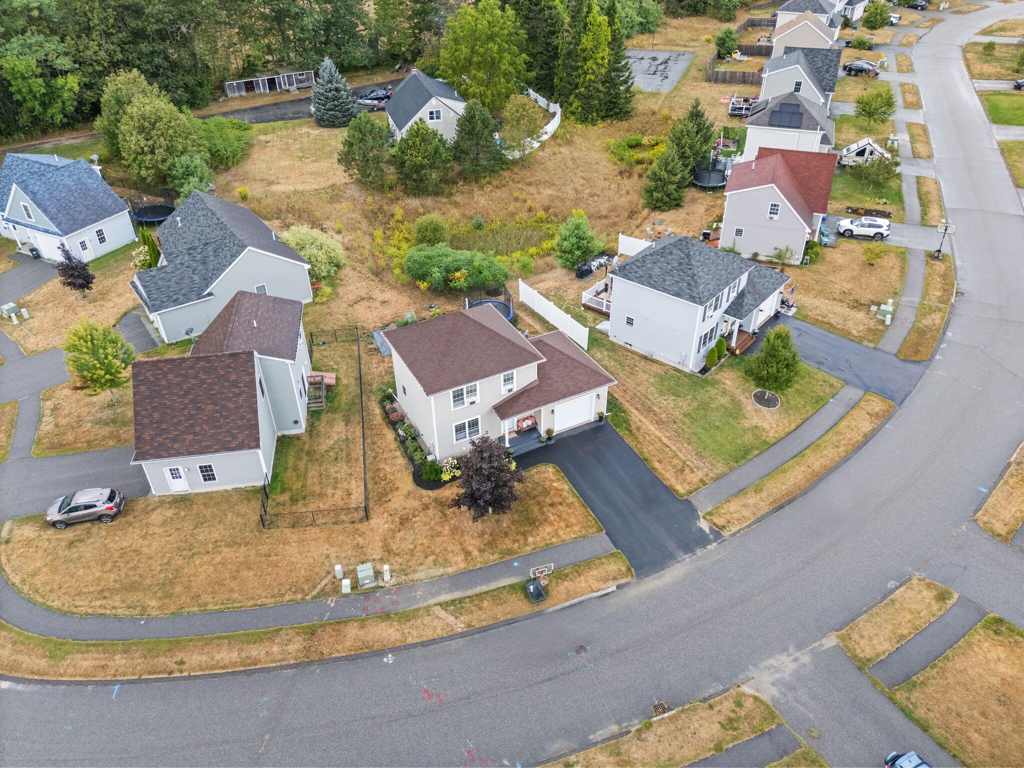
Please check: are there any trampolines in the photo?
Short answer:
Yes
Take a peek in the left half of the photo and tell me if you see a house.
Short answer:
Yes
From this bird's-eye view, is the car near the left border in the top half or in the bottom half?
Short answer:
bottom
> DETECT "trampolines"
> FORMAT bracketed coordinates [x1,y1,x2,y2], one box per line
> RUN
[463,284,512,322]
[126,188,174,228]
[692,159,729,194]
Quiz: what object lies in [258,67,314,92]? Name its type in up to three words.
shed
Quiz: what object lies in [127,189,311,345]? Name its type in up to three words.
house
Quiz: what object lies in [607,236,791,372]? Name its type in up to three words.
house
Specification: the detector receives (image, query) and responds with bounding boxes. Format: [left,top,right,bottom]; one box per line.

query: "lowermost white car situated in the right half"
[837,216,891,240]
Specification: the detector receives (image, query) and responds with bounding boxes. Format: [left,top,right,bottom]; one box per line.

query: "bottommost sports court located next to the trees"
[625,50,696,93]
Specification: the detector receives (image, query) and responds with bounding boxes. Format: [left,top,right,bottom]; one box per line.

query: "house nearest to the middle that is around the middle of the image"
[381,303,618,462]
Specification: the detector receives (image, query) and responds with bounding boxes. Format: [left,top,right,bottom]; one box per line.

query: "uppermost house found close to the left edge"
[0,152,136,263]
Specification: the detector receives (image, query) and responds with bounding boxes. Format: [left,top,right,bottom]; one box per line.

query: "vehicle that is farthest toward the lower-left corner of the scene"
[42,482,125,527]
